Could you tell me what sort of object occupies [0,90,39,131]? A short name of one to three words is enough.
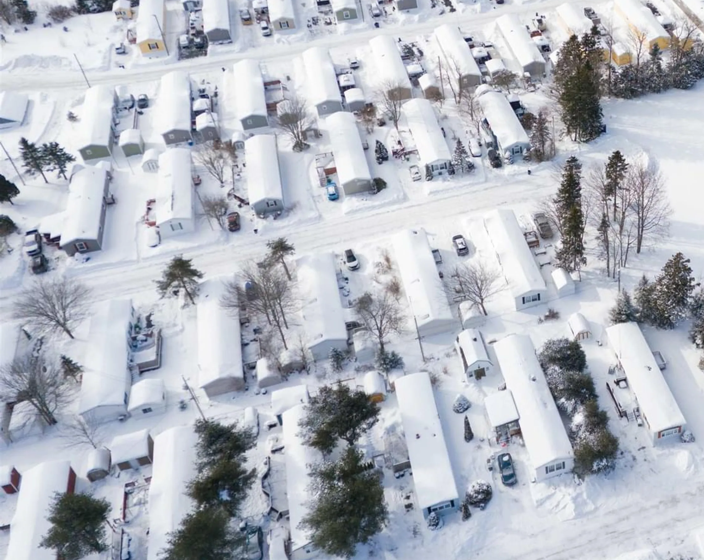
house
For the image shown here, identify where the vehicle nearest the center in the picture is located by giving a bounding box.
[344,249,360,272]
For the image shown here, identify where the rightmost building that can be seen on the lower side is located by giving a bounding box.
[602,325,688,449]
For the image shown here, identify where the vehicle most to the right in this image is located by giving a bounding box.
[584,8,596,22]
